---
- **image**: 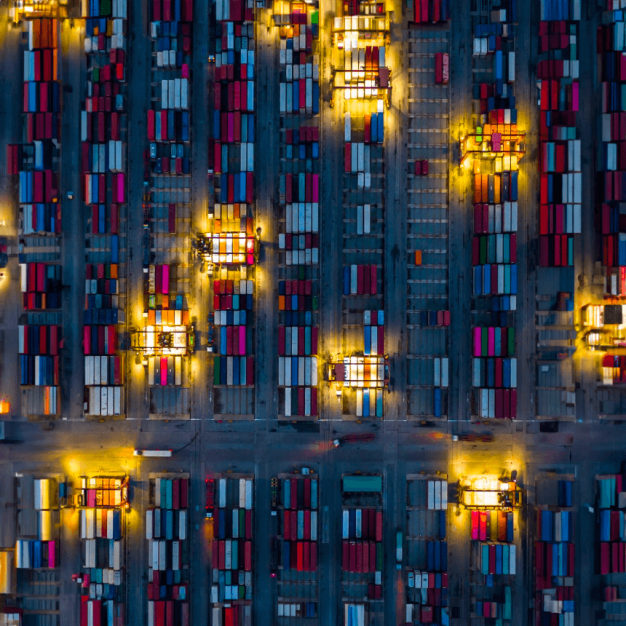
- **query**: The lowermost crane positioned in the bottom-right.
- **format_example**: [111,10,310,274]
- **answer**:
[458,474,528,509]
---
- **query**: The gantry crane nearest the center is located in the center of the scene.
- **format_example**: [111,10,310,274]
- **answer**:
[328,355,392,386]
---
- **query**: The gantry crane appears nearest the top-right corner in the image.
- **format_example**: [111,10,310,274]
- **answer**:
[458,131,528,166]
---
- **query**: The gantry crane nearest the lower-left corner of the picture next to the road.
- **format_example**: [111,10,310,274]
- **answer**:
[61,473,132,509]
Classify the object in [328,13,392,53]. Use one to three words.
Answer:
container crane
